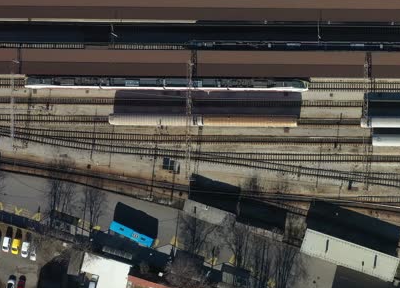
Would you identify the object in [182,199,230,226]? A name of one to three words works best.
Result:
building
